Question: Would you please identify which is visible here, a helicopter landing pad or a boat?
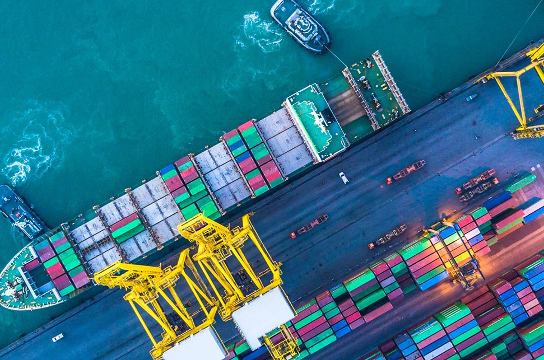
boat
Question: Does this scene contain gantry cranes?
Yes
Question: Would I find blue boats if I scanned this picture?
Yes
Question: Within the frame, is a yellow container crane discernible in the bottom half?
Yes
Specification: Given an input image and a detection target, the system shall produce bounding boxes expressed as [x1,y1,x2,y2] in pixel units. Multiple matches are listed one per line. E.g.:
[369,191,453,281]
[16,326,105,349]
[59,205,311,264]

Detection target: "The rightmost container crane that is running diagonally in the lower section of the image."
[422,215,487,291]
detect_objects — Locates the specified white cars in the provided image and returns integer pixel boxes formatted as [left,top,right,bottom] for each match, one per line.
[338,172,349,184]
[51,333,64,342]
